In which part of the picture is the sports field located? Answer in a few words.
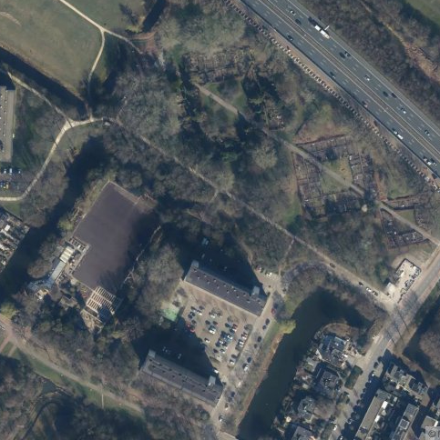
left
